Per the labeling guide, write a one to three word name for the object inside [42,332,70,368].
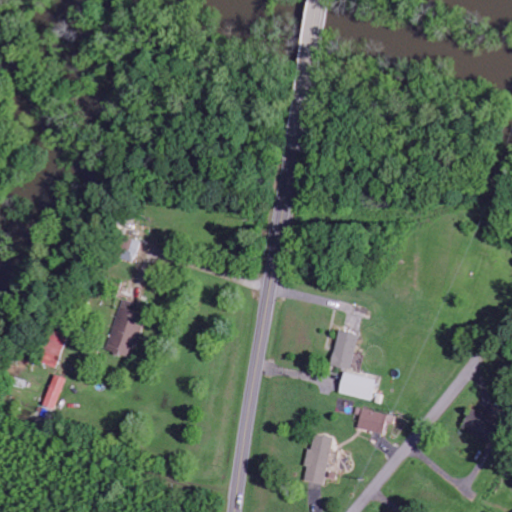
barn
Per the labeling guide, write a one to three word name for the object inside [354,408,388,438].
house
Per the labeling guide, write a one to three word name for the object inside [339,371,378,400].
building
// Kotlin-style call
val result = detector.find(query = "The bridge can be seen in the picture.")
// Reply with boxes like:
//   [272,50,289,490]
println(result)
[300,0,328,47]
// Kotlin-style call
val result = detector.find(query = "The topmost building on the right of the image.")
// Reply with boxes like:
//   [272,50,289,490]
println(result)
[332,330,358,372]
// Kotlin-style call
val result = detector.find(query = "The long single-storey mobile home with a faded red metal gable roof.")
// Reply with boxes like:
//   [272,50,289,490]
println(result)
[40,374,66,412]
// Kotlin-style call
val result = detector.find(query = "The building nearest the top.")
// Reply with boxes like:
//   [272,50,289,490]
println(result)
[120,238,140,264]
